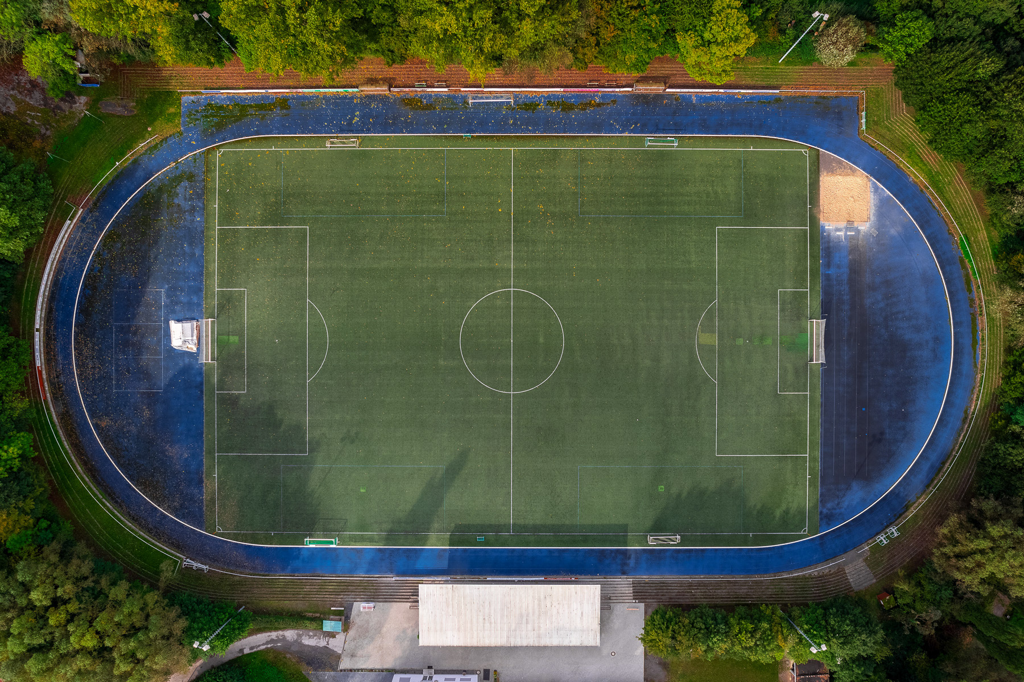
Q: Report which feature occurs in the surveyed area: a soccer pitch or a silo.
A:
soccer pitch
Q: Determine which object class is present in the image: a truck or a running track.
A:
running track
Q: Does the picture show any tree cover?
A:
Yes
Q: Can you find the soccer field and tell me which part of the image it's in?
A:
center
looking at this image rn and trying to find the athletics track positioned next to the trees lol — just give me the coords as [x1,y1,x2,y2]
[46,94,978,574]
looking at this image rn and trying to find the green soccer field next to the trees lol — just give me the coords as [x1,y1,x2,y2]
[204,136,820,546]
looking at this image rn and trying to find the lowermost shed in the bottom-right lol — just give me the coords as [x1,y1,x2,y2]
[786,652,830,682]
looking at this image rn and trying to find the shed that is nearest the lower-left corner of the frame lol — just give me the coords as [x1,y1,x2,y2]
[321,613,345,633]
